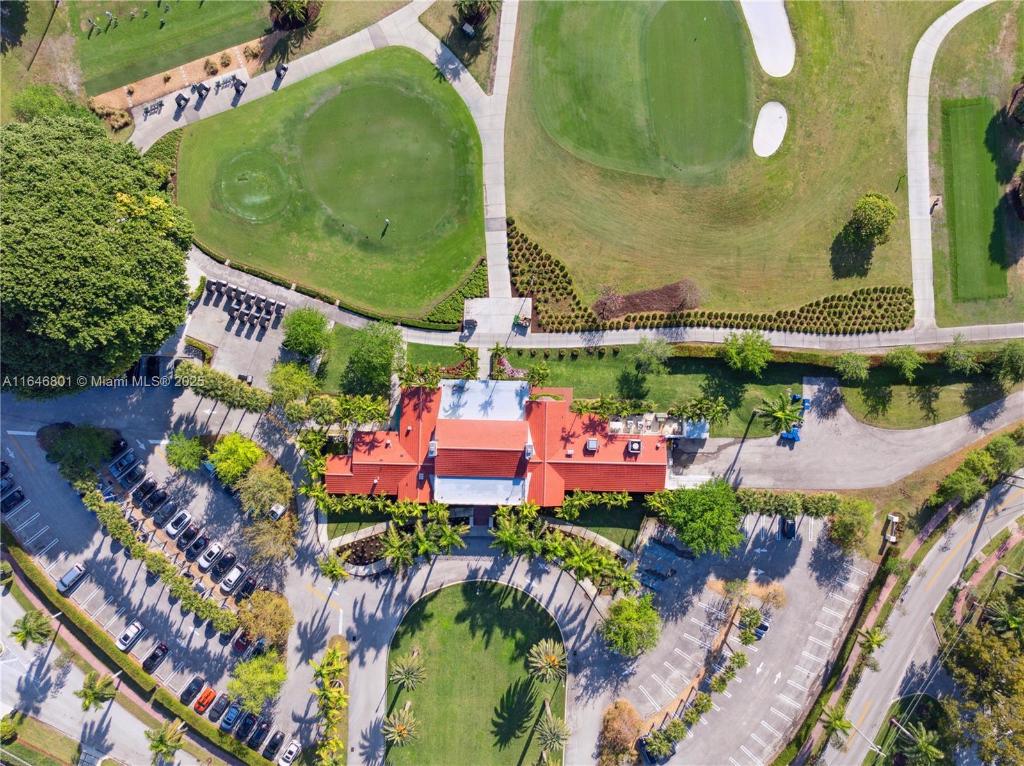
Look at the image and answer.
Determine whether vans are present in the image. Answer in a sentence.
Yes, the image includes a van.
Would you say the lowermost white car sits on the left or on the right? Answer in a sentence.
The lowermost white car sits on the left side.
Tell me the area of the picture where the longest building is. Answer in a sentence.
Look in the center portion of the view to spot the longest building.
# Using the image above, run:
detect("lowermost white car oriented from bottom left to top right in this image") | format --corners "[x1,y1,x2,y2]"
[277,737,303,766]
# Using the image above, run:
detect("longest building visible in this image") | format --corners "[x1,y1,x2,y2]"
[325,380,708,507]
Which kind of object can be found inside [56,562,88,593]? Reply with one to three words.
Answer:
van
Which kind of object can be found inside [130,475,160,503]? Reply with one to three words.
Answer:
car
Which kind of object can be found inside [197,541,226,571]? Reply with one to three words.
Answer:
car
